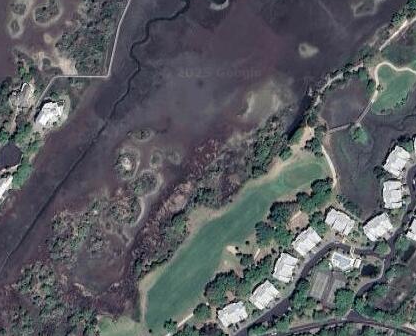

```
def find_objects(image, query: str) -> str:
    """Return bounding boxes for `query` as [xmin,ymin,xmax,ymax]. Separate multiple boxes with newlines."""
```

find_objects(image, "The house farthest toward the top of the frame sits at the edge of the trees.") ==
[11,80,34,105]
